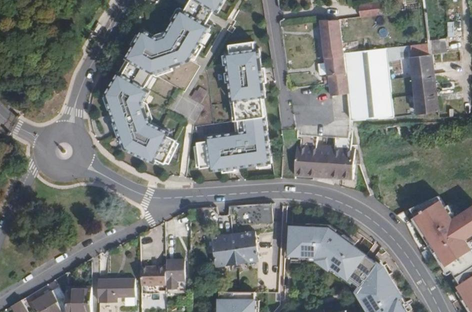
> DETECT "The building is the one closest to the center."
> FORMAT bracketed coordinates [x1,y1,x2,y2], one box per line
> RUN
[196,118,274,174]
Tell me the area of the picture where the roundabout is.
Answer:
left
